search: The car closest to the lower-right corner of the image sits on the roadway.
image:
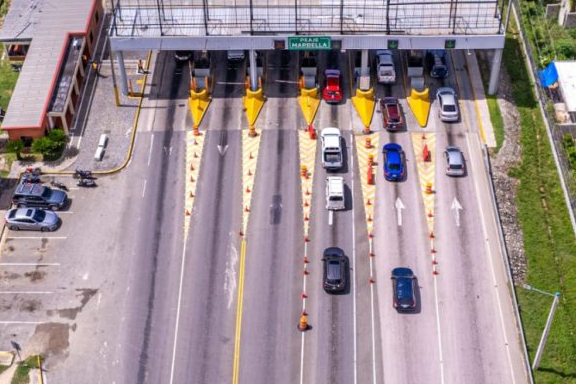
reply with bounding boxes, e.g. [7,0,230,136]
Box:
[389,268,418,315]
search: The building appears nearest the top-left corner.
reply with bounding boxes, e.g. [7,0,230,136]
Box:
[0,0,101,155]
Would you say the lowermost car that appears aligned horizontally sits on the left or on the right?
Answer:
left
